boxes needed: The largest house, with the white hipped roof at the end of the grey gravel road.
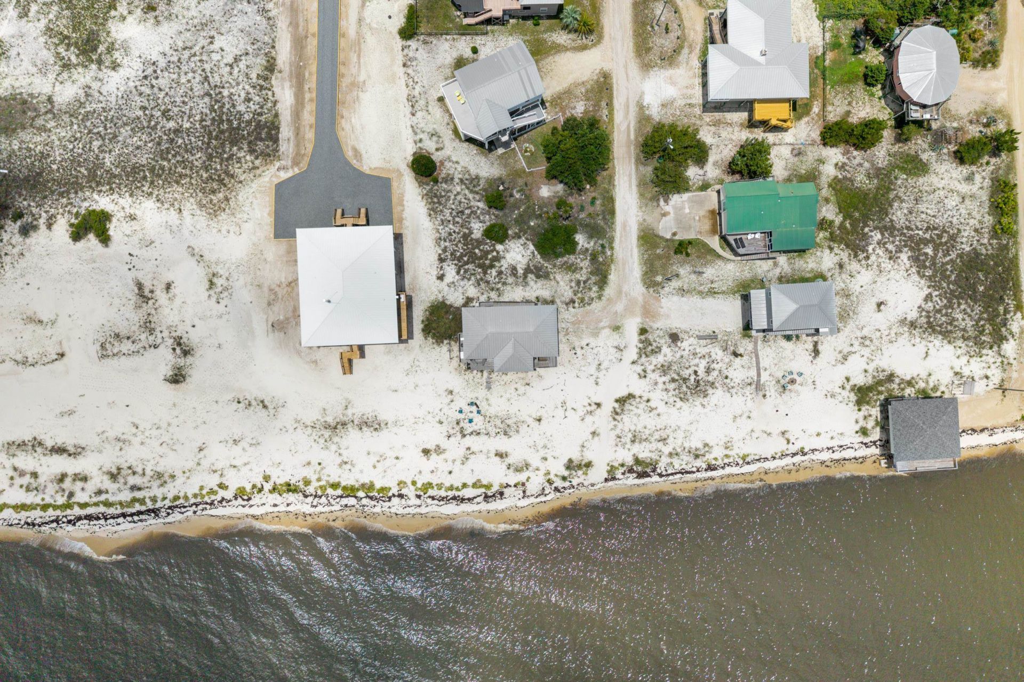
[296,206,411,375]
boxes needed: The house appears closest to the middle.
[459,301,558,372]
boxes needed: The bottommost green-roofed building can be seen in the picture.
[717,173,818,262]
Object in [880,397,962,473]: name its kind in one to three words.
house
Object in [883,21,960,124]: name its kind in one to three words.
house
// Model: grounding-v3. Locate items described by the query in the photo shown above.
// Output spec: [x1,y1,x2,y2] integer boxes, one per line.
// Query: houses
[742,281,837,336]
[883,21,960,124]
[880,397,962,473]
[440,41,546,145]
[456,0,564,27]
[699,0,809,135]
[296,206,411,375]
[459,301,558,372]
[717,173,818,262]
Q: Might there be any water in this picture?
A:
Yes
